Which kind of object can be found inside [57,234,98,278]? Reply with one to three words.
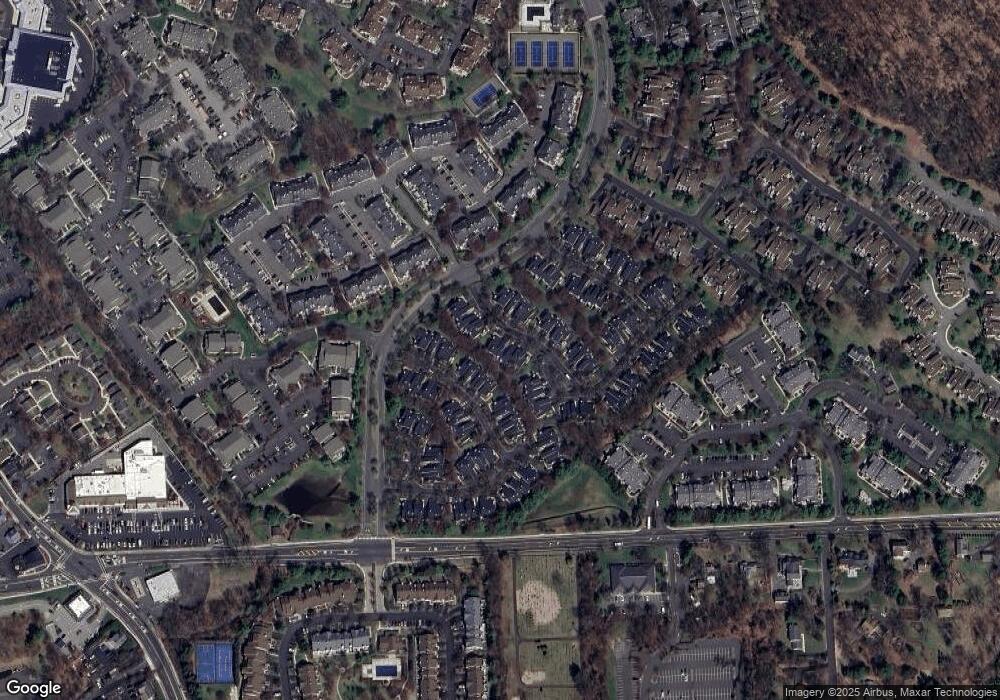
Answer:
building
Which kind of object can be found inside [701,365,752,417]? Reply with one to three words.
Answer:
building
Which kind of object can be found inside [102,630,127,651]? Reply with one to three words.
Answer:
house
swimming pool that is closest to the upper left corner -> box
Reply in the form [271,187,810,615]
[199,288,229,321]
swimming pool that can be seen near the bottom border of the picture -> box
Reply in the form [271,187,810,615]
[362,657,400,679]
